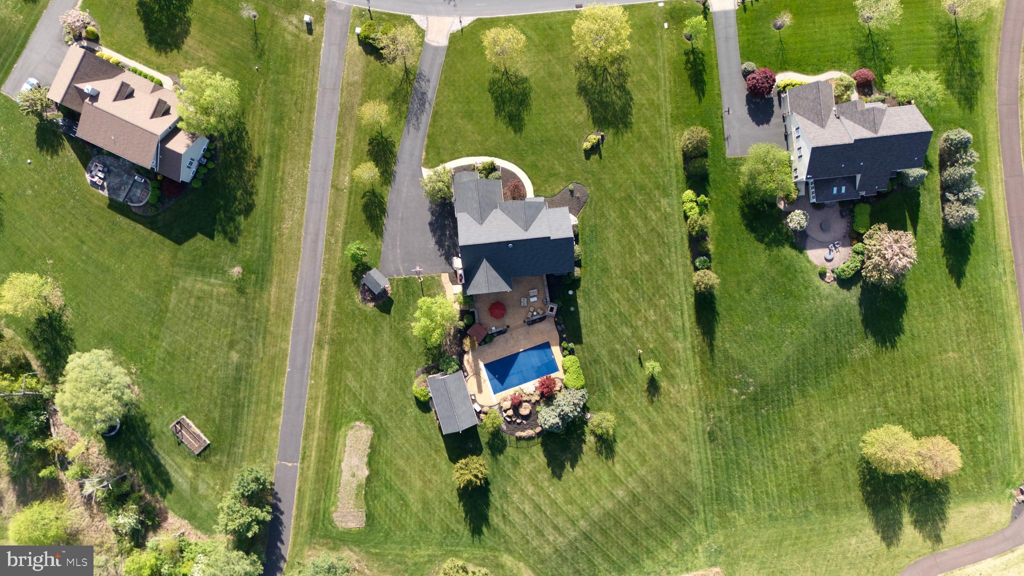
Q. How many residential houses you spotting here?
3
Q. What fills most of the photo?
grass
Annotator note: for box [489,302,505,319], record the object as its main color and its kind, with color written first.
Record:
red umbrella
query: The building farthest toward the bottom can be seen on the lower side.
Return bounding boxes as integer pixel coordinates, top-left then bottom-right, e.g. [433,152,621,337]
[426,371,478,435]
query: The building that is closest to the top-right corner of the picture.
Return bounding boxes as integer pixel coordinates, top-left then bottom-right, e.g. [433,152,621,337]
[778,81,933,203]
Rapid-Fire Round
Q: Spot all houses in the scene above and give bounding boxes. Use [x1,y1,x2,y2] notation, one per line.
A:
[450,170,575,296]
[778,81,933,203]
[48,45,210,183]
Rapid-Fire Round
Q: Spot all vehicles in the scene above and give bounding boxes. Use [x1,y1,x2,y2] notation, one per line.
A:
[14,76,38,102]
[452,258,461,272]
